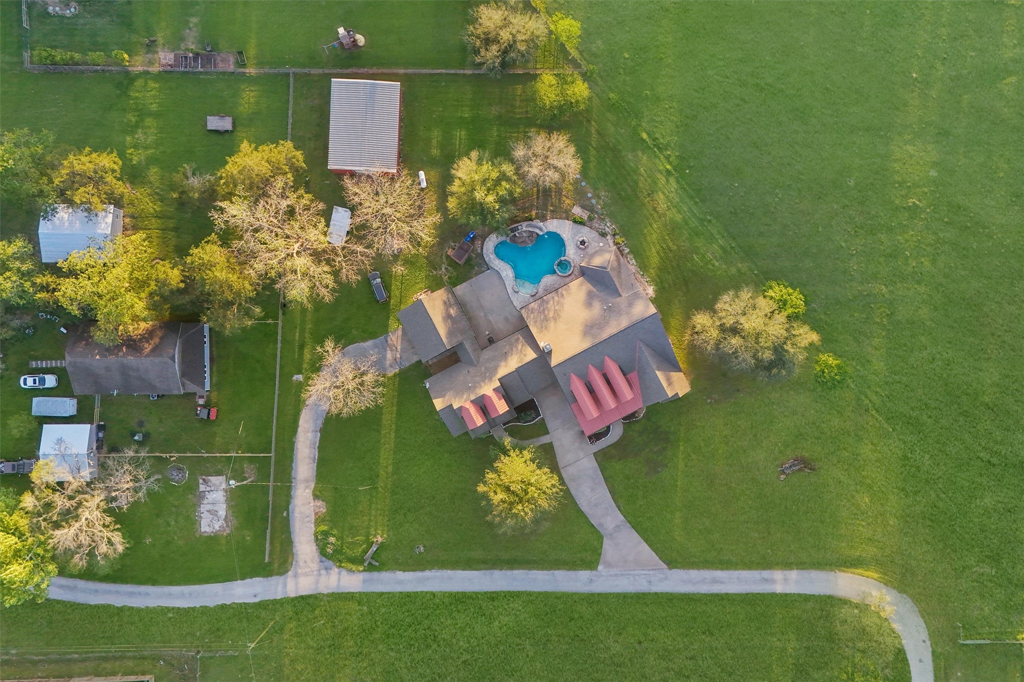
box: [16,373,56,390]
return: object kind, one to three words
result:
car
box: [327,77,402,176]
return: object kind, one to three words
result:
barn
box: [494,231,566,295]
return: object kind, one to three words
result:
swimming pool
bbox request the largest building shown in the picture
[397,245,692,440]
